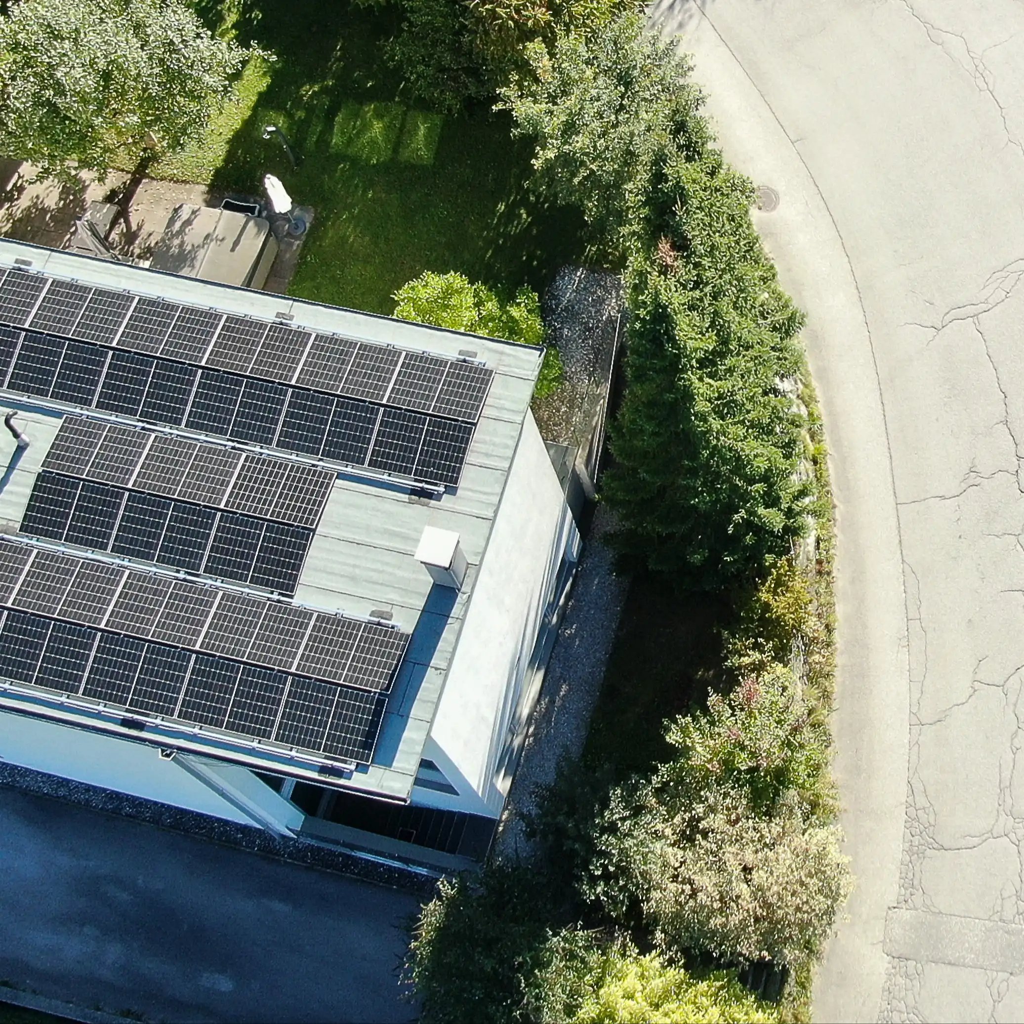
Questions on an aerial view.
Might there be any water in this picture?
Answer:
No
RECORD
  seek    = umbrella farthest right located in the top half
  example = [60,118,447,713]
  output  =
[261,167,306,235]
